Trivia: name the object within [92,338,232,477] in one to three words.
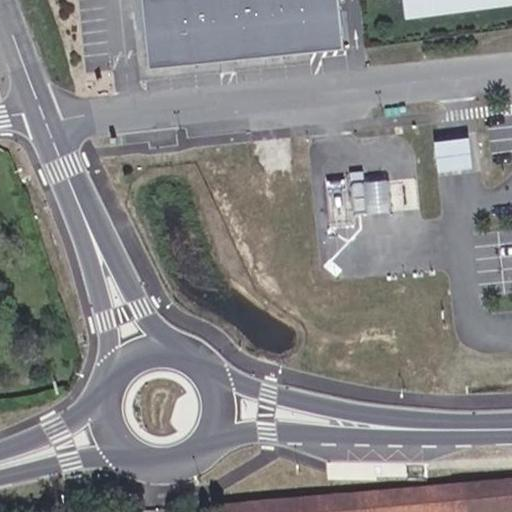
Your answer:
roundabout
